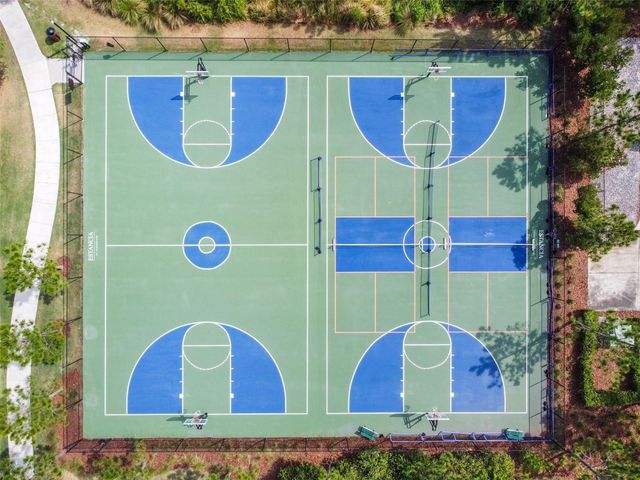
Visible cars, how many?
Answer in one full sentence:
The count of cars is 0.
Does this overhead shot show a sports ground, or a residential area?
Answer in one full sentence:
What you see here is a sports ground.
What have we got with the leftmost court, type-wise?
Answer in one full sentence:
The leftmost court can be classified as a basketball court.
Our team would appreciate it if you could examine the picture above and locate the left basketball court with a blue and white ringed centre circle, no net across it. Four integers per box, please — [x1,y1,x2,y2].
[88,75,308,415]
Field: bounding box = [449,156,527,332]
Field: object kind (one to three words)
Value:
sports court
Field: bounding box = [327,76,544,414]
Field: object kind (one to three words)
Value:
basketball court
